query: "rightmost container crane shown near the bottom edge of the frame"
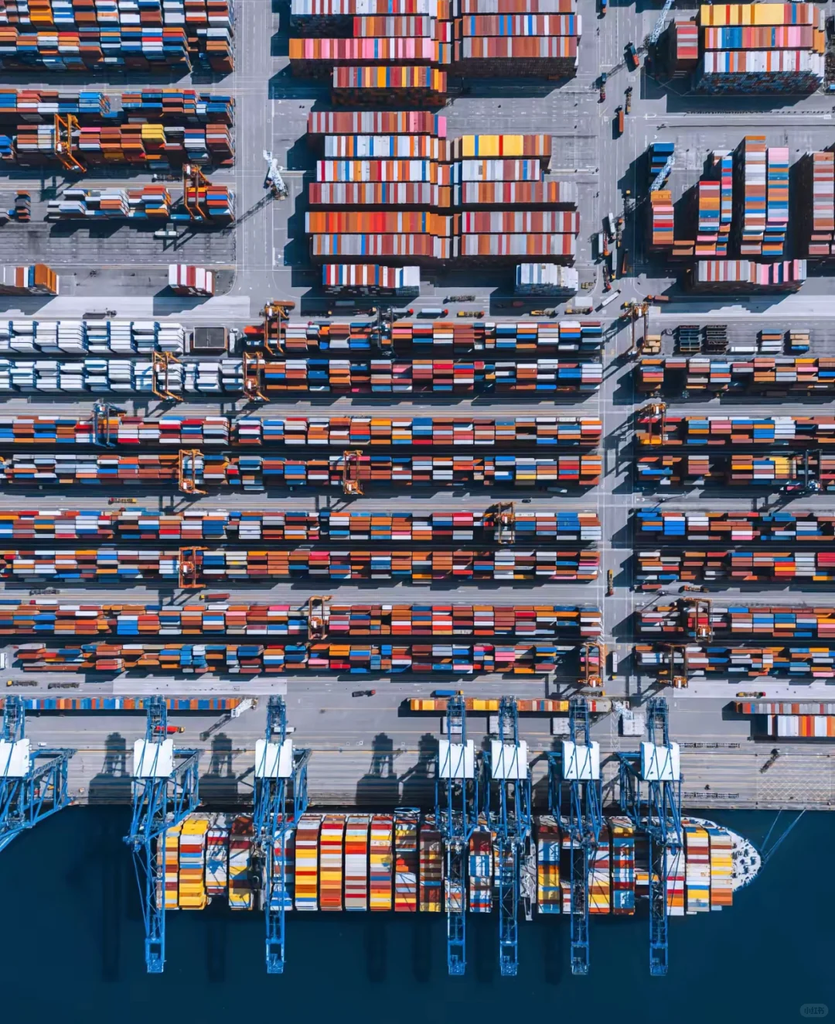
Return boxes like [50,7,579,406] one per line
[610,693,692,975]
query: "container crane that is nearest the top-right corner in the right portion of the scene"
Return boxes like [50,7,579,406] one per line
[619,305,652,358]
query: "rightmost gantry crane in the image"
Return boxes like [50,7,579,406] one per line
[785,450,824,494]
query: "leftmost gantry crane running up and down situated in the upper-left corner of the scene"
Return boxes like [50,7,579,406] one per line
[54,115,89,177]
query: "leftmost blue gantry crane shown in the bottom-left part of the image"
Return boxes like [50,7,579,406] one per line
[0,693,79,867]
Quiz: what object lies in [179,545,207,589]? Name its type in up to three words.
container crane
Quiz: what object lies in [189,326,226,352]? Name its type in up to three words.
shed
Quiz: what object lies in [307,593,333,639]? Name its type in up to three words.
container crane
